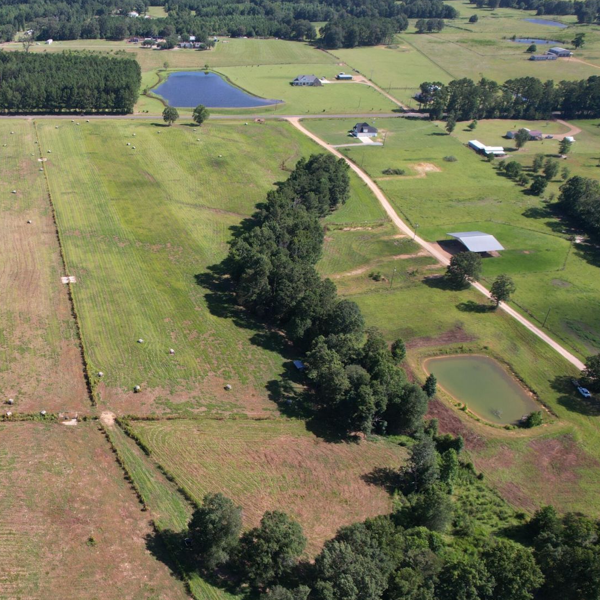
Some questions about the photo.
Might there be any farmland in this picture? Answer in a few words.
Yes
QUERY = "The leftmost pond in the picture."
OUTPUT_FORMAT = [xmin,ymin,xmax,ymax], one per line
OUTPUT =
[153,71,284,108]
